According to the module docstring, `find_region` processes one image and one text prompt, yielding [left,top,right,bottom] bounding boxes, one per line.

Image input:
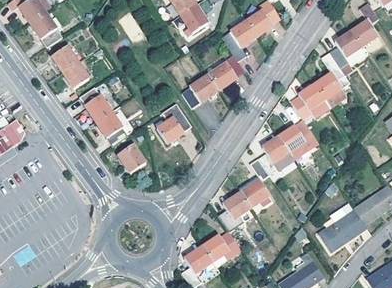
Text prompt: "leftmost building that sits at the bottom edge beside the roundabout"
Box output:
[182,244,214,288]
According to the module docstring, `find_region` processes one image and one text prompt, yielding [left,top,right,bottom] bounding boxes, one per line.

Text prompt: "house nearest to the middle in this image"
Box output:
[156,104,194,147]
